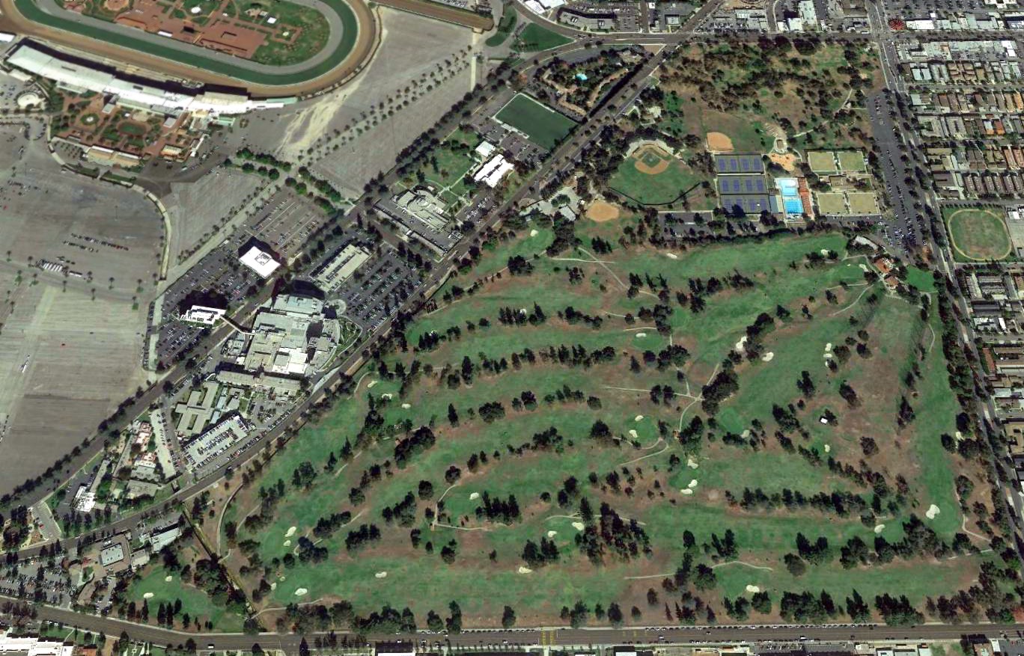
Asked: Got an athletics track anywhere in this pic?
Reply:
Yes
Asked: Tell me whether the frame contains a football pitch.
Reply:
Yes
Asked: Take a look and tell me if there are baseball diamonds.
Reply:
Yes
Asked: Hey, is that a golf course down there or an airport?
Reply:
golf course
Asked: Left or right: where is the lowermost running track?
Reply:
right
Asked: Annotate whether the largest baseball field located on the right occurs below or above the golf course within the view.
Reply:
above it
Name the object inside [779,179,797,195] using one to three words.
swimming pool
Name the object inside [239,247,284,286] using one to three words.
building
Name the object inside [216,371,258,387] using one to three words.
building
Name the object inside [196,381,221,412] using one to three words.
house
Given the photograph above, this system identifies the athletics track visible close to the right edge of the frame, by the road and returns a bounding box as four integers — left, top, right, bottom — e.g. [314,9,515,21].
[945,207,1016,262]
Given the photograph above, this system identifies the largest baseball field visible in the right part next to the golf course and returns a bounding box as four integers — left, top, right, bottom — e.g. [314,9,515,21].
[608,136,701,205]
